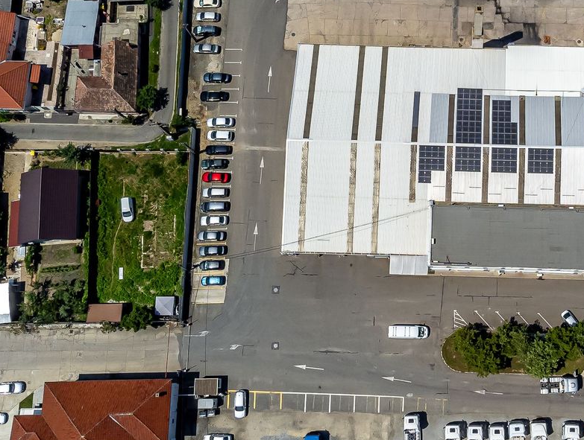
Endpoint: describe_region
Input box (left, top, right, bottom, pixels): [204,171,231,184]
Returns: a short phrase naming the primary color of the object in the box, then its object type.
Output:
red vehicle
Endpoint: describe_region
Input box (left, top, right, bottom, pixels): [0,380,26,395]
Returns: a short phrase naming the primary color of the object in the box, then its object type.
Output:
white car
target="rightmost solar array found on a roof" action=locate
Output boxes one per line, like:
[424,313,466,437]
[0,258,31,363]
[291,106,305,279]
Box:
[527,149,553,173]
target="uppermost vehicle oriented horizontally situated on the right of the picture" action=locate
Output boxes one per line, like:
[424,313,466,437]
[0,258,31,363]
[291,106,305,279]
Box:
[392,323,425,339]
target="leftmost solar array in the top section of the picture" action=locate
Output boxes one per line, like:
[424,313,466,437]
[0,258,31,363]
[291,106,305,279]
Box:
[418,146,445,183]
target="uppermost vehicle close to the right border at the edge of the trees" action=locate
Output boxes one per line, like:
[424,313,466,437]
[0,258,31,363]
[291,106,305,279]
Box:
[559,307,579,328]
